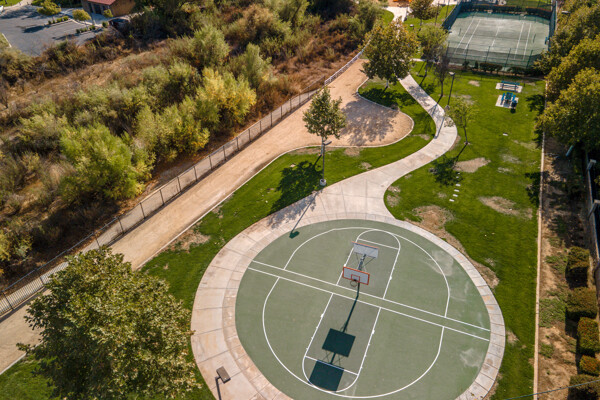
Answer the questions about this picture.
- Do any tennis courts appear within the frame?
Yes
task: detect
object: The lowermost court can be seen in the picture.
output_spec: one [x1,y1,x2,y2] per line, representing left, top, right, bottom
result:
[191,205,503,400]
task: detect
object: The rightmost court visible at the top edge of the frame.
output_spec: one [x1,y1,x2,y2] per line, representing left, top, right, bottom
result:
[428,9,551,74]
